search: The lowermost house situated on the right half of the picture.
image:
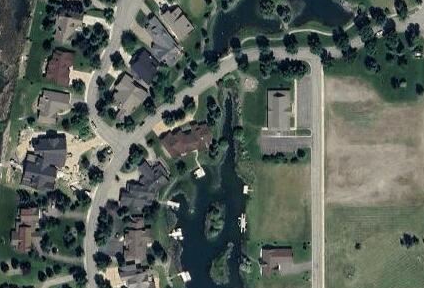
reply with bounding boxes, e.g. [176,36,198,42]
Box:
[261,245,292,276]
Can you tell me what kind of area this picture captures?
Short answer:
residential area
